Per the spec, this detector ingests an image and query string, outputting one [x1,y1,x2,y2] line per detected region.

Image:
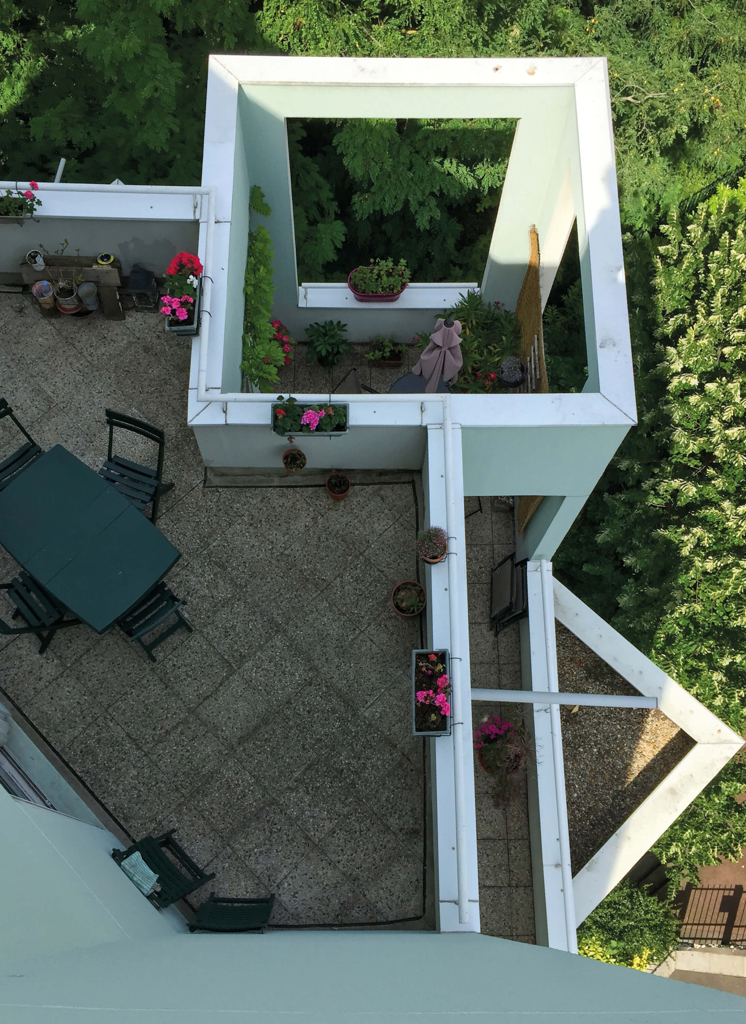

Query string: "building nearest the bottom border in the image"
[0,682,746,1024]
